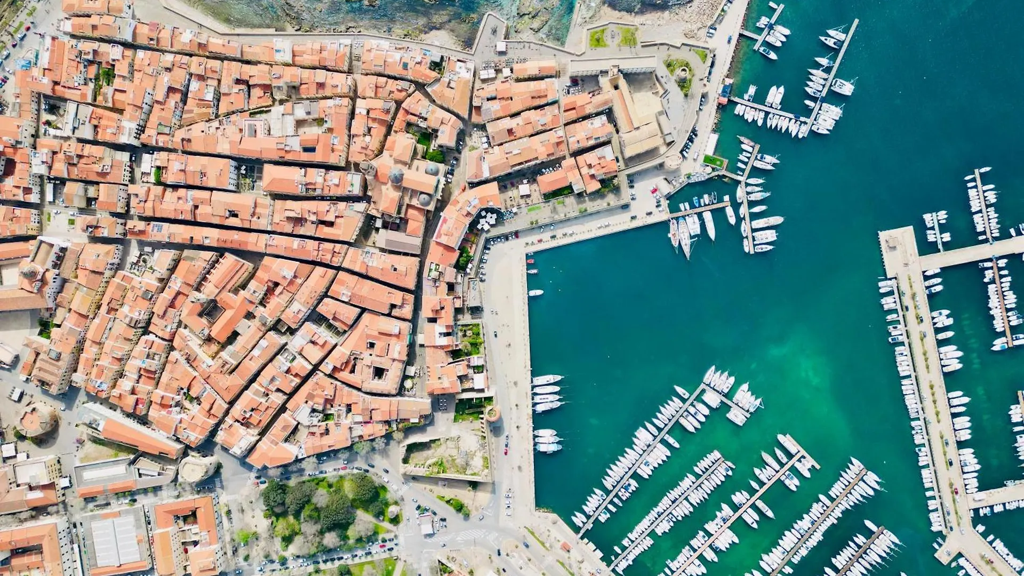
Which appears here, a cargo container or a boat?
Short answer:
boat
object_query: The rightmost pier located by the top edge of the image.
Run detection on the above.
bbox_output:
[803,16,859,137]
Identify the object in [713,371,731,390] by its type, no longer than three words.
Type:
boat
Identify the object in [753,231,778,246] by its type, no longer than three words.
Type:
boat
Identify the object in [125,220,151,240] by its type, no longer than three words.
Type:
house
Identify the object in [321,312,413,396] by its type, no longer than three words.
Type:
building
